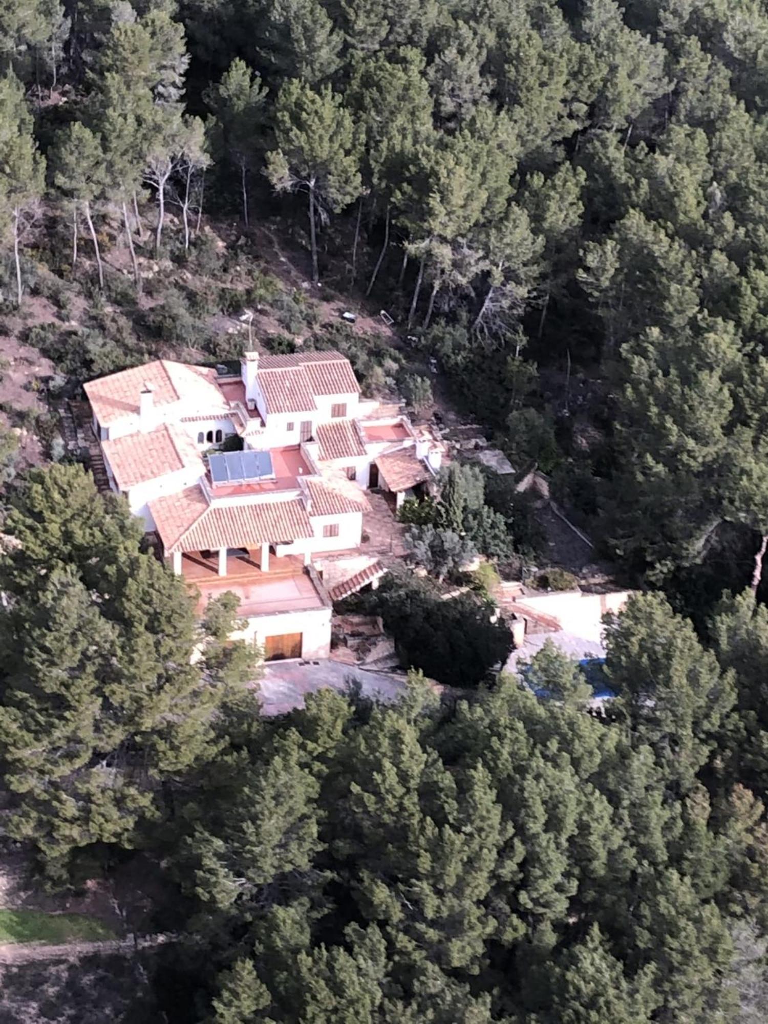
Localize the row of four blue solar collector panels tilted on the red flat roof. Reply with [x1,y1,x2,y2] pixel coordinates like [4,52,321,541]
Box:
[209,450,279,487]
